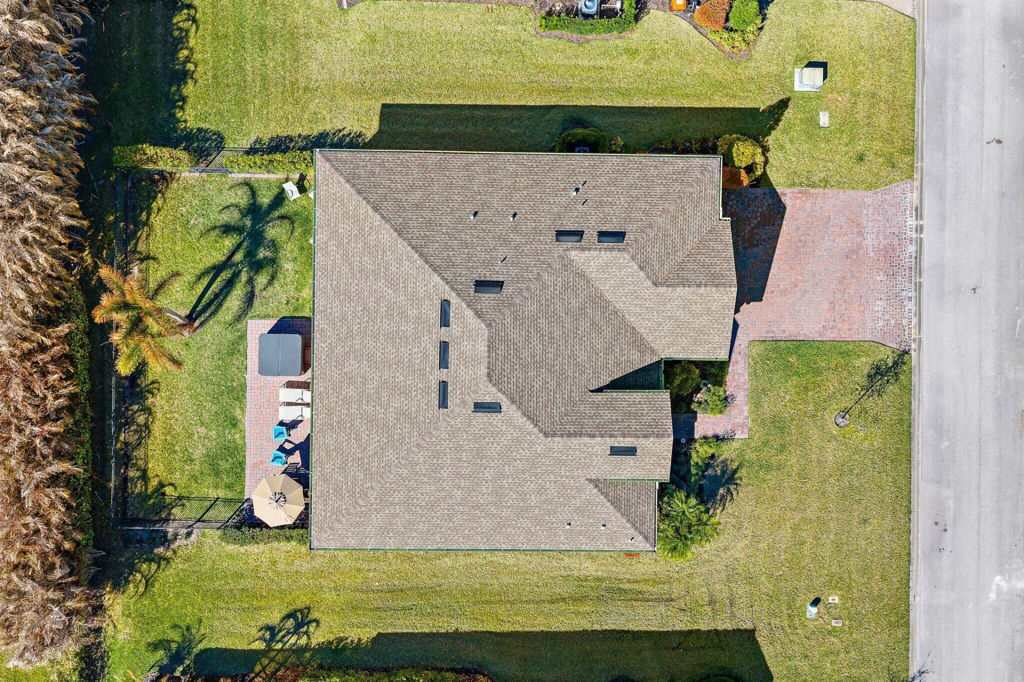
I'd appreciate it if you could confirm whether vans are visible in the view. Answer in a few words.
No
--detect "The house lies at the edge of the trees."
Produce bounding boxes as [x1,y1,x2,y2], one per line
[307,147,737,556]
